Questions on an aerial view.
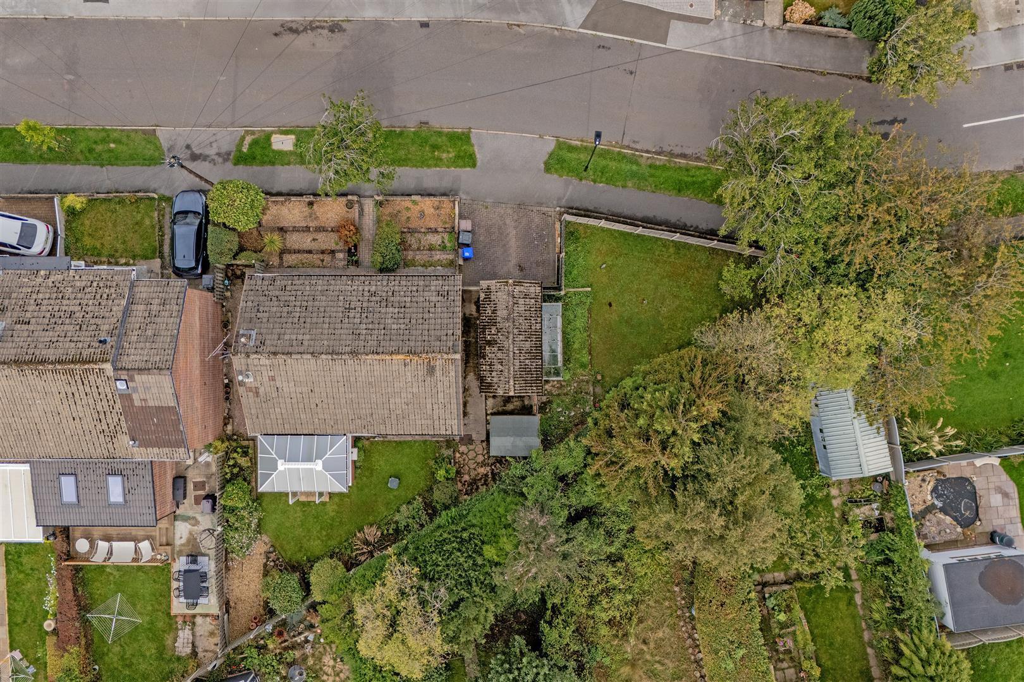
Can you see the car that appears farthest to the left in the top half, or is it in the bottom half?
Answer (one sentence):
You can find the car that appears farthest to the left in the top half.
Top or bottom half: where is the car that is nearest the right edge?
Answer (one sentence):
The car that is nearest the right edge sits in the top half of the picture.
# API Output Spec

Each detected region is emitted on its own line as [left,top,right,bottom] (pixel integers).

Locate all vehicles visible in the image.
[164,190,211,277]
[0,206,57,248]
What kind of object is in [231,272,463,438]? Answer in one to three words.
house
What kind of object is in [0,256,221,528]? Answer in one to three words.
house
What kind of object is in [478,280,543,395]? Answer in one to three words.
building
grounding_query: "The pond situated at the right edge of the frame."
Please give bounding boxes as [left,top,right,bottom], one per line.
[932,477,980,527]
